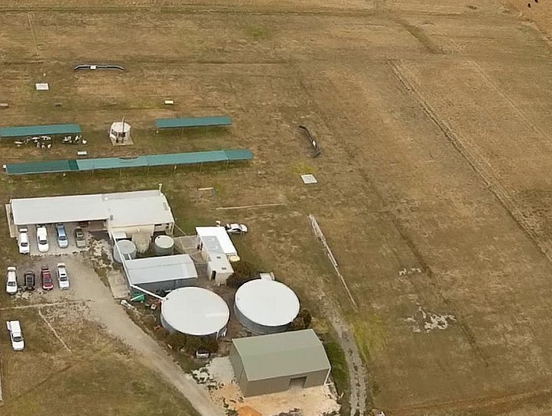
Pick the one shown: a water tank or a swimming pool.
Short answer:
water tank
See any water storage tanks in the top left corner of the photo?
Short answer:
No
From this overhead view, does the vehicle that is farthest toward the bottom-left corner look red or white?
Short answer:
white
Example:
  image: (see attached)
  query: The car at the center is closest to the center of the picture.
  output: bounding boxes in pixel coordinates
[225,221,251,234]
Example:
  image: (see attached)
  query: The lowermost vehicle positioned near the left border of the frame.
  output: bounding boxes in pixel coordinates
[5,318,25,350]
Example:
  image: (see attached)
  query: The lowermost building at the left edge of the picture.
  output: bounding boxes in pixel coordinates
[8,183,178,238]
